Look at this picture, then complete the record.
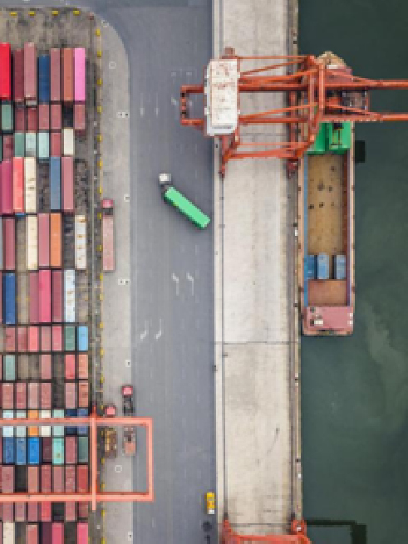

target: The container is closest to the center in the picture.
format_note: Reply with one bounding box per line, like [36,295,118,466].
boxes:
[164,187,211,231]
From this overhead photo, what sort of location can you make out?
port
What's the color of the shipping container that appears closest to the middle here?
green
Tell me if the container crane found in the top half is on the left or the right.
right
